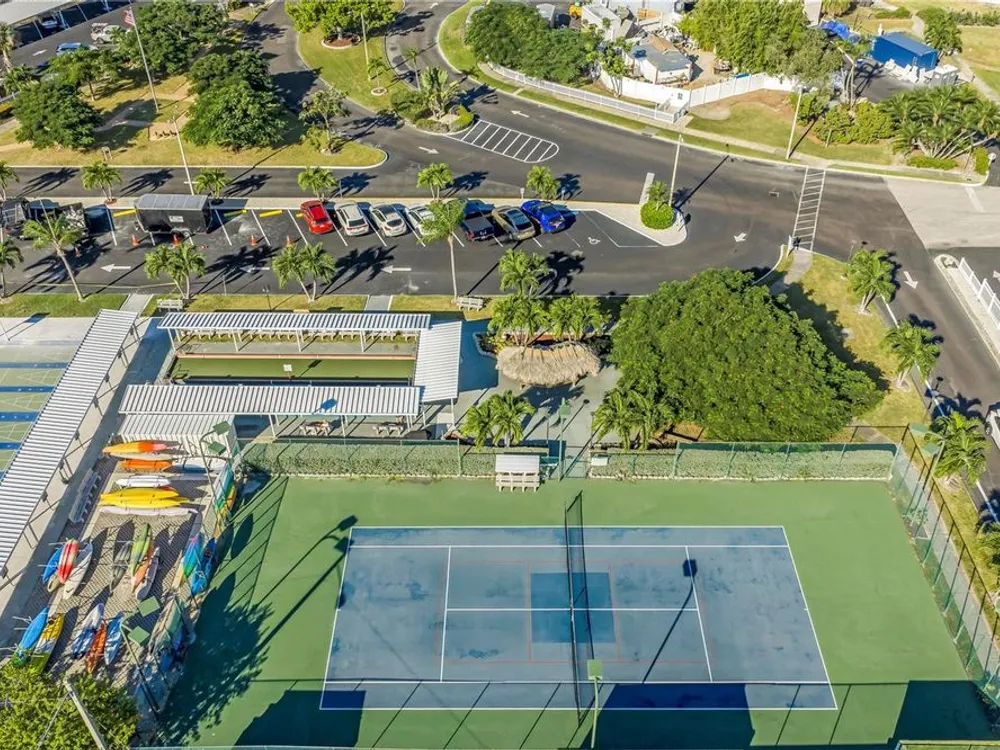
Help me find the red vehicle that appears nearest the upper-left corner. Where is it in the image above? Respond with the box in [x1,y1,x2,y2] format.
[298,205,335,238]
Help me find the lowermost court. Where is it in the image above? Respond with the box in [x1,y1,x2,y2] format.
[155,477,1000,750]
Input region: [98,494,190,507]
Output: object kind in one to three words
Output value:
boat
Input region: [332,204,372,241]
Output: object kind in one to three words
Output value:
car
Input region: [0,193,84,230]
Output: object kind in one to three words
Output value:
truck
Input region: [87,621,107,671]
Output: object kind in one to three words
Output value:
boat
